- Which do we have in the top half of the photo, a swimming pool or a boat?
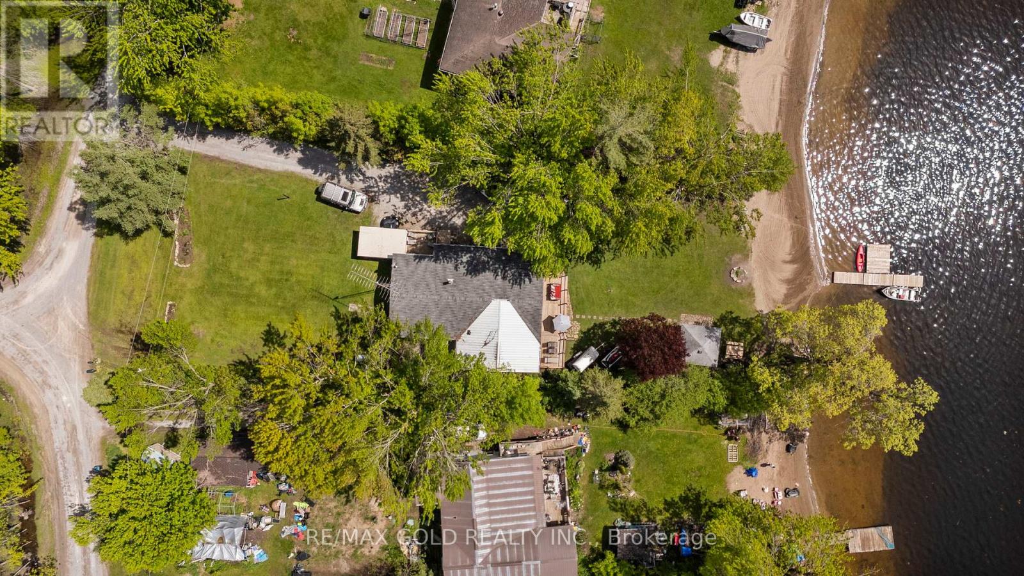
boat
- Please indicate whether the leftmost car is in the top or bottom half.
top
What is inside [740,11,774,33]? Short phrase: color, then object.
white boat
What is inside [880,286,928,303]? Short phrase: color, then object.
white boat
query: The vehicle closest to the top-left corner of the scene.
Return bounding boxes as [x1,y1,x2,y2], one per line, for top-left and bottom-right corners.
[319,182,371,214]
